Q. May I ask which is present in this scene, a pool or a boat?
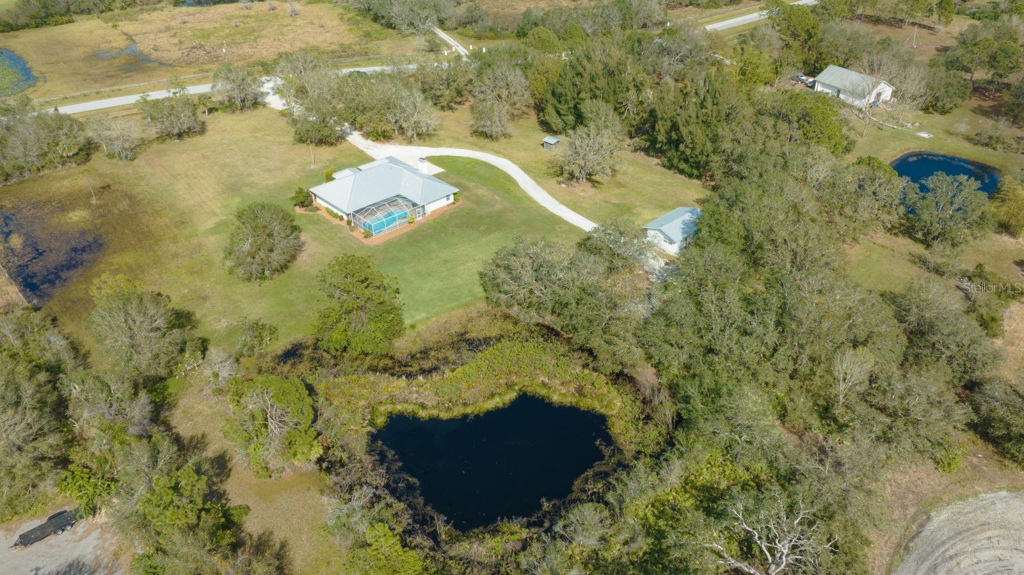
pool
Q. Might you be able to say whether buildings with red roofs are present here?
No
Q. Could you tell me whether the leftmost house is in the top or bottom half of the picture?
top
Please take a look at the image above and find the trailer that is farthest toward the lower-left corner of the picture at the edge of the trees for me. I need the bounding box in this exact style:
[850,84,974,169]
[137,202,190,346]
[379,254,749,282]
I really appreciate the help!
[0,505,86,548]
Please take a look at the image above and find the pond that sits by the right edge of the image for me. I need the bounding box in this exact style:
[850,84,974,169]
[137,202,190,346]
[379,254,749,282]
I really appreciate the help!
[890,151,1002,214]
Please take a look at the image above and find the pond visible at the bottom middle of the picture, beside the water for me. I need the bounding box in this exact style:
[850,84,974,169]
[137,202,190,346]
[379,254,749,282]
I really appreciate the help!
[365,391,621,538]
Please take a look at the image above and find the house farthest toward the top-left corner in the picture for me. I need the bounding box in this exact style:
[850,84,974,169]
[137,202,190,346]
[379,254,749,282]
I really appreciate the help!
[307,155,459,222]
